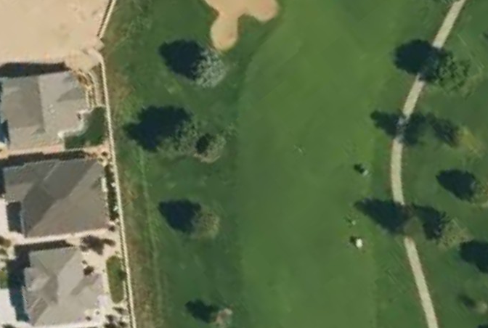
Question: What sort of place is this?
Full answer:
This image shows a golf course.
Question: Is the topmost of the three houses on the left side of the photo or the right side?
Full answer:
The topmost of the three houses is on the left side of the image.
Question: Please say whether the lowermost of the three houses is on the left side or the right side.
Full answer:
It is on the left.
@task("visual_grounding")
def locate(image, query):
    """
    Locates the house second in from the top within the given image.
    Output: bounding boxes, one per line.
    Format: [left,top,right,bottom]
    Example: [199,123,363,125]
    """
[2,157,110,238]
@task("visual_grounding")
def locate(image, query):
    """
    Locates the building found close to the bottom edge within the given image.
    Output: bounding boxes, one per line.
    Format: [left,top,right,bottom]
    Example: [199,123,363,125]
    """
[22,247,104,327]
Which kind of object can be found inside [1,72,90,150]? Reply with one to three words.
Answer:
house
